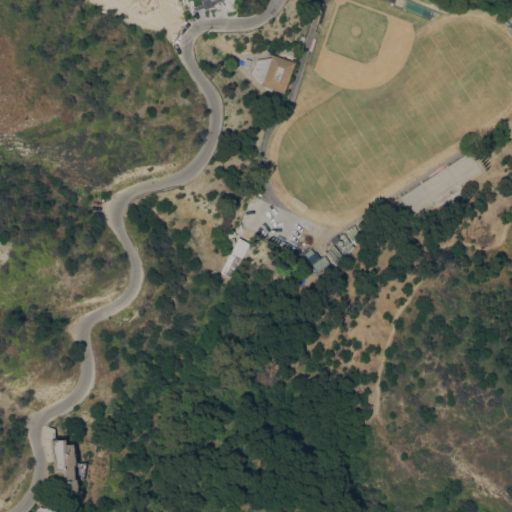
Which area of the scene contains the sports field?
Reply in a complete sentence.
The sports field is located in the top right region of the scene.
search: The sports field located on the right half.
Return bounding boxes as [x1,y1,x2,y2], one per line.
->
[270,0,512,226]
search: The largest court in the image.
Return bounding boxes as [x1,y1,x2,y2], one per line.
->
[401,156,483,212]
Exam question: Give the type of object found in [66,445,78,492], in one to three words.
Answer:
house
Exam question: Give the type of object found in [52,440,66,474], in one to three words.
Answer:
house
